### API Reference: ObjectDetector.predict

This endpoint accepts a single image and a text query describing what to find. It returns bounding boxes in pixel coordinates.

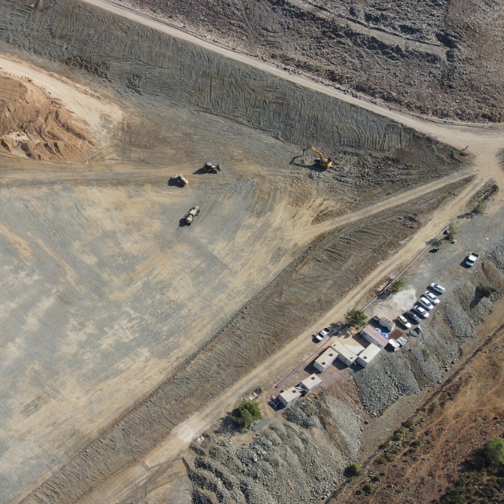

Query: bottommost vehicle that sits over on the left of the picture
[186,204,202,224]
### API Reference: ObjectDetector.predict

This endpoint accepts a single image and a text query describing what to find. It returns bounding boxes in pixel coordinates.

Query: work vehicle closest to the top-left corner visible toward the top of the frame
[172,172,192,187]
